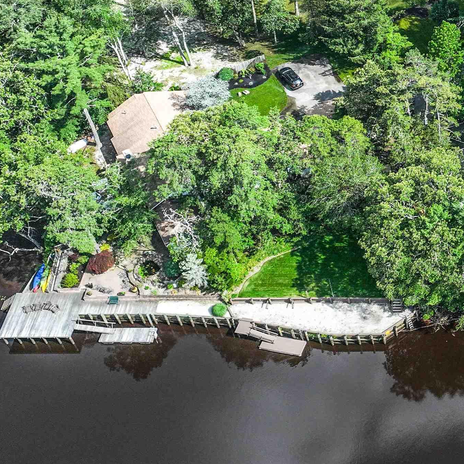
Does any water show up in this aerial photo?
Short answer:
Yes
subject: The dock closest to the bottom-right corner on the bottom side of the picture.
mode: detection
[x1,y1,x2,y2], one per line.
[259,337,307,358]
